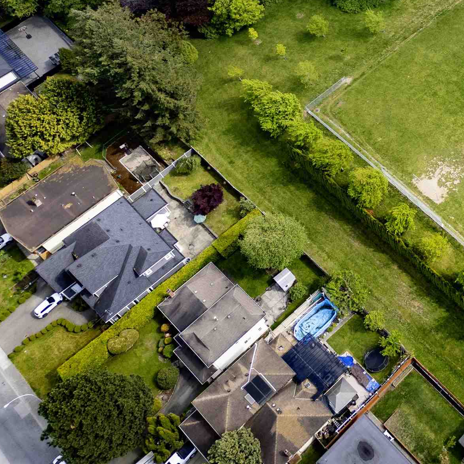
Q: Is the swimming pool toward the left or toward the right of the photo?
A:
right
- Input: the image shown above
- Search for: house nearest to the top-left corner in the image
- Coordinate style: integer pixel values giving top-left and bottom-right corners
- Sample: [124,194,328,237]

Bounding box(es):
[0,34,46,95]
